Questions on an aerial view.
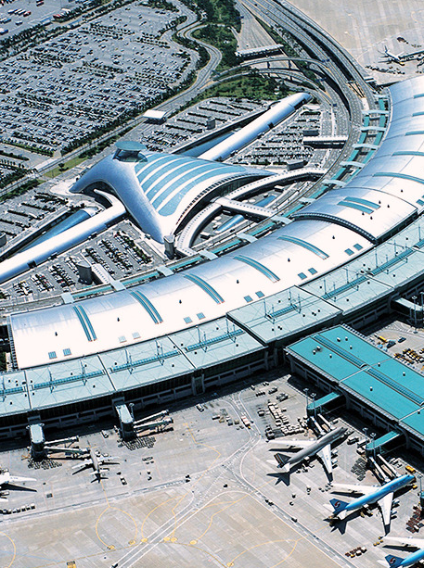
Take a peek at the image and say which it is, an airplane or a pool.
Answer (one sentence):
It is an airplane that can be seen here.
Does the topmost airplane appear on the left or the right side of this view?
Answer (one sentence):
The topmost airplane appears in the right half of the scene.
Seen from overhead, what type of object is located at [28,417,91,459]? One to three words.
jet bridge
